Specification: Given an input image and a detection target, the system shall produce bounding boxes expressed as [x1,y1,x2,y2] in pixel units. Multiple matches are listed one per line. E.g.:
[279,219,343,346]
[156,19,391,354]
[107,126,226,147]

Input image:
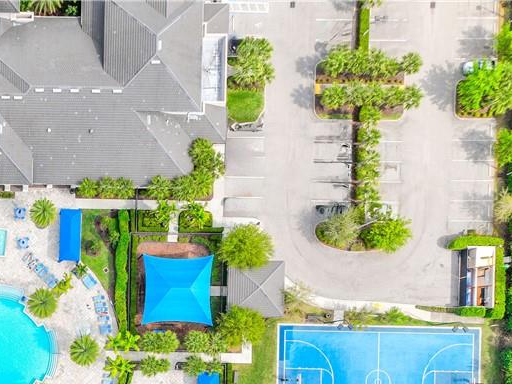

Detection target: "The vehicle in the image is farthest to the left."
[233,117,264,133]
